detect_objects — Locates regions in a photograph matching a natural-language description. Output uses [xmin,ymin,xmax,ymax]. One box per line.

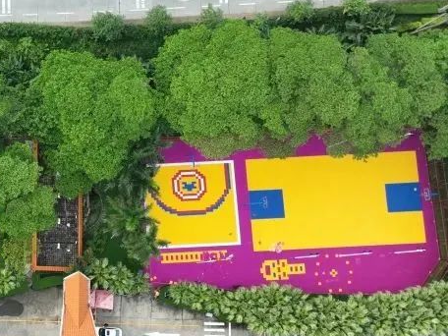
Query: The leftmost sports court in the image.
[146,160,241,249]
